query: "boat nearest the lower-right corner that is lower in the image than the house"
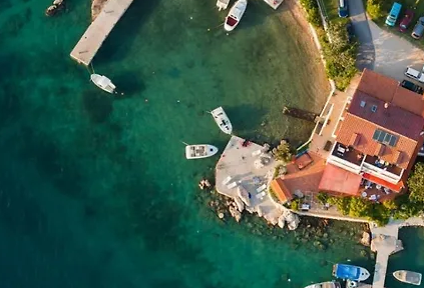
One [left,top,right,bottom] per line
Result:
[392,270,423,286]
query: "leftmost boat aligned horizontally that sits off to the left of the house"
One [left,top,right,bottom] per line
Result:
[184,143,218,158]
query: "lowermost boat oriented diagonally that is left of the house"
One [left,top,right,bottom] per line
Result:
[211,106,232,133]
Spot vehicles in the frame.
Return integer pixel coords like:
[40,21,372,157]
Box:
[336,0,348,17]
[399,78,424,95]
[402,64,424,83]
[412,14,424,40]
[399,8,414,31]
[386,1,402,26]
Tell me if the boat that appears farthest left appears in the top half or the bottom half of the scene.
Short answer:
top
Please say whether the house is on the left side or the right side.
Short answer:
right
